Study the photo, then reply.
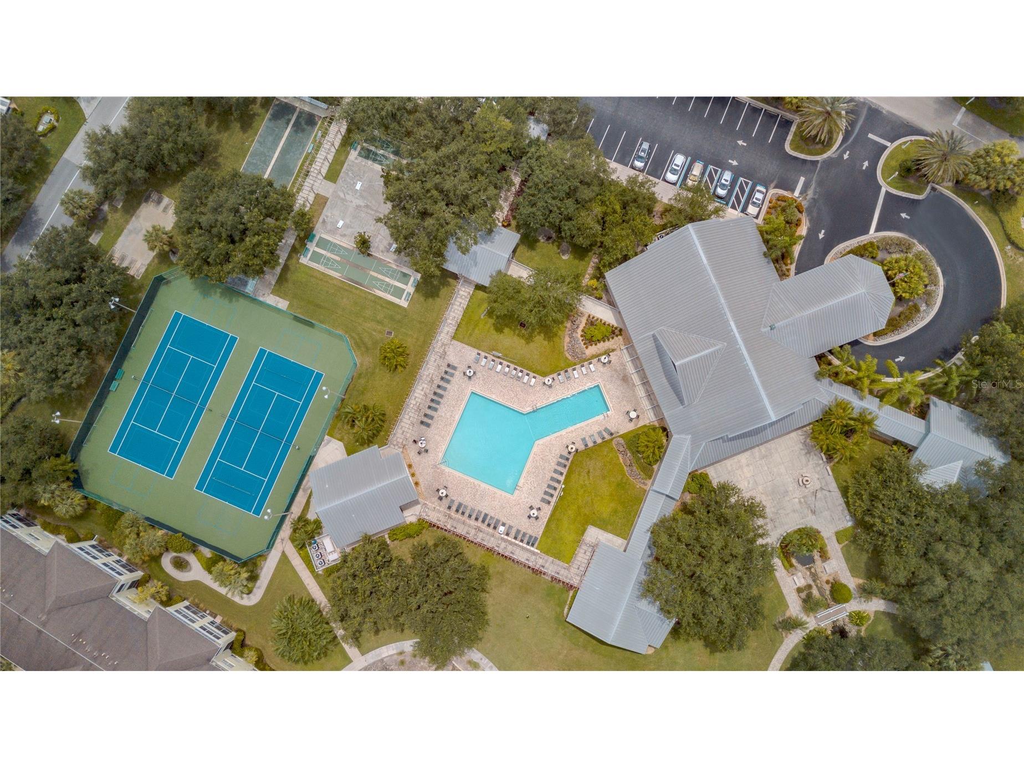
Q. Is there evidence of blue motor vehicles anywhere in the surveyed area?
No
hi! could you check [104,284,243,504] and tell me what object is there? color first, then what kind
blue tennis court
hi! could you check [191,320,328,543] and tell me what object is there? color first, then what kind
blue tennis court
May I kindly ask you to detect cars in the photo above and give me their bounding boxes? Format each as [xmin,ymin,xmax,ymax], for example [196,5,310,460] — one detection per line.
[633,140,651,171]
[746,184,767,218]
[685,158,706,189]
[715,168,733,199]
[666,151,686,184]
